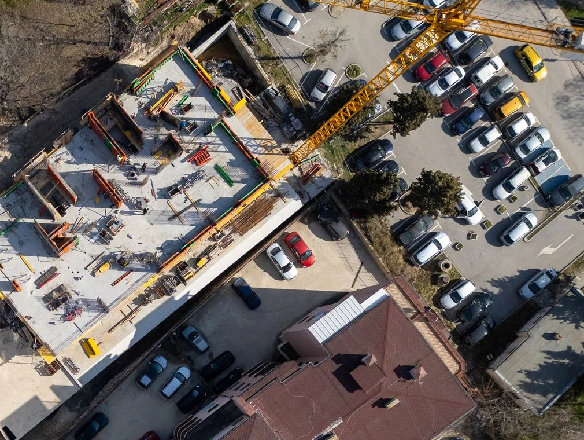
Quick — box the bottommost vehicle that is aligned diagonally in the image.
[73,409,111,440]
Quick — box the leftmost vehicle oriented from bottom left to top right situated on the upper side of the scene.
[308,67,339,104]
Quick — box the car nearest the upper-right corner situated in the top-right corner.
[514,42,550,83]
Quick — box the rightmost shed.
[481,286,584,414]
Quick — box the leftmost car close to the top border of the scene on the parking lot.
[259,3,300,36]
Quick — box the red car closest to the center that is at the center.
[282,230,315,269]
